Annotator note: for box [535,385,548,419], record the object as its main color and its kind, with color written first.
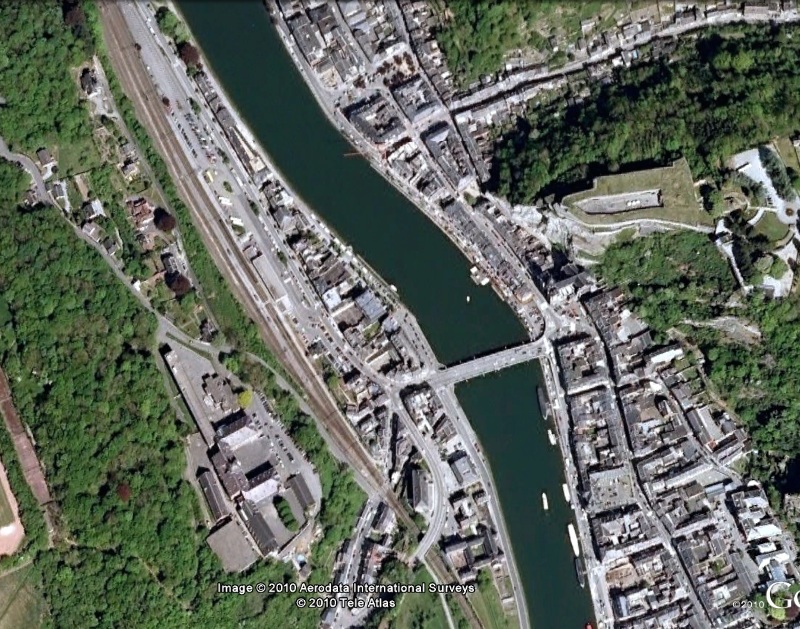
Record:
gray ship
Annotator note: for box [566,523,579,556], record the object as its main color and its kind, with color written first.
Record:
white boat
